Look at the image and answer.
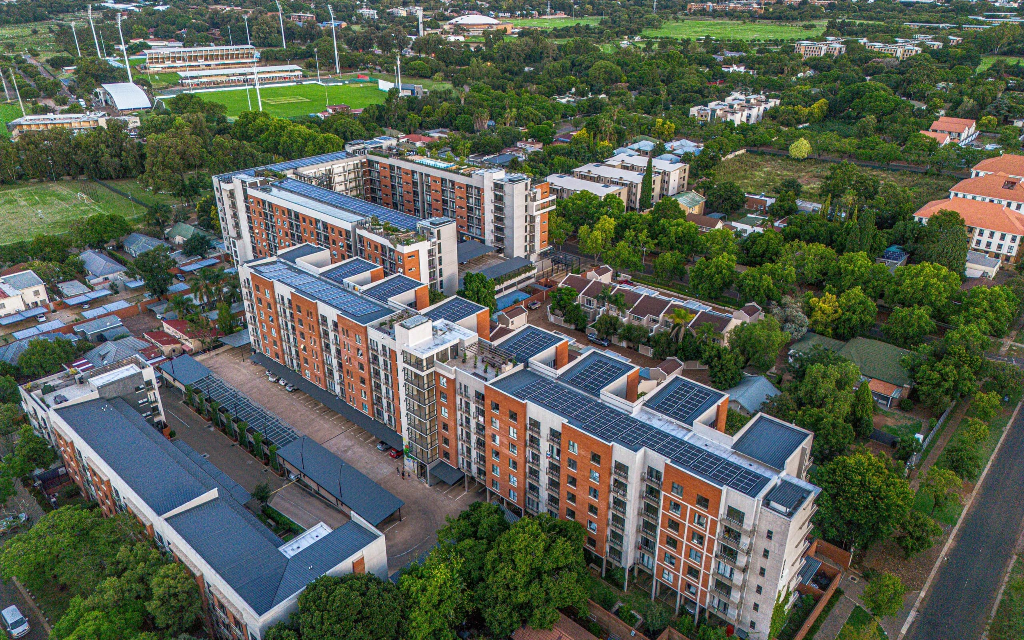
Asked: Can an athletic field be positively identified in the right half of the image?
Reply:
No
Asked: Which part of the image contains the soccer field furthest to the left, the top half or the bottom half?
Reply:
top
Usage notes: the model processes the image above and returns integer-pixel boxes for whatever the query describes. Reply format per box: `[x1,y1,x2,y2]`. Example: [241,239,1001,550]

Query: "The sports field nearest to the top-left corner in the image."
[133,61,181,89]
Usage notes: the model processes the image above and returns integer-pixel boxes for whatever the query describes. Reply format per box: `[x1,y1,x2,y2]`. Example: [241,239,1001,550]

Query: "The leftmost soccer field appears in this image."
[0,173,144,245]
